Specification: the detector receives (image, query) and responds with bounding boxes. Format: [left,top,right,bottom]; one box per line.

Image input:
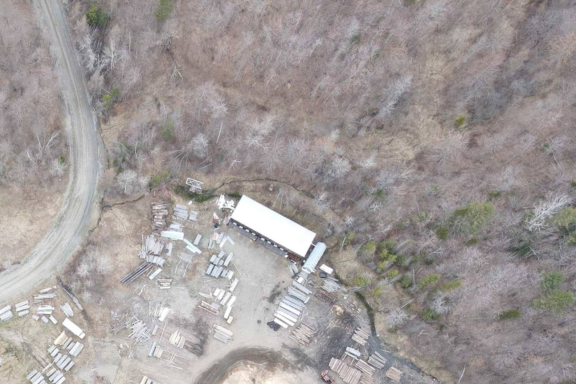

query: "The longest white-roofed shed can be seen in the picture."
[228,195,316,259]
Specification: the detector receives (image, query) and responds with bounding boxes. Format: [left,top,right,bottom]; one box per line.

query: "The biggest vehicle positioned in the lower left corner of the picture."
[62,317,86,338]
